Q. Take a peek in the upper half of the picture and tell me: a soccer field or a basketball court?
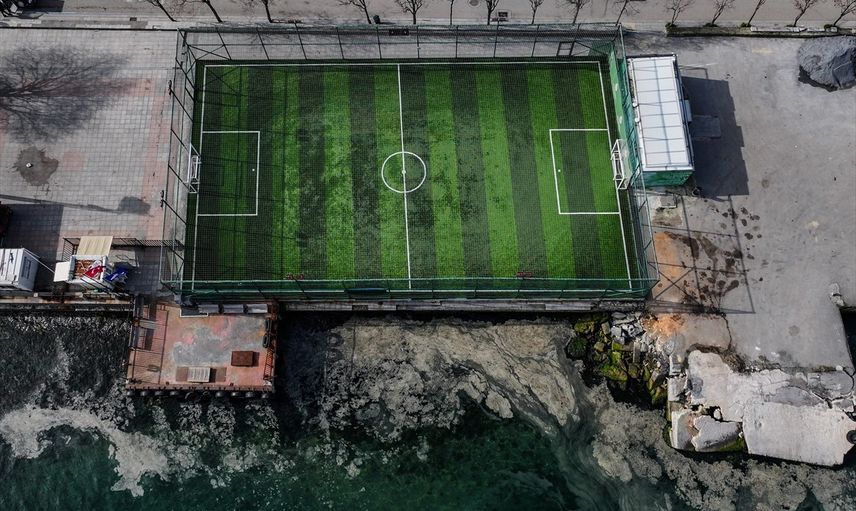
soccer field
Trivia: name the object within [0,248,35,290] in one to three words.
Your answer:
building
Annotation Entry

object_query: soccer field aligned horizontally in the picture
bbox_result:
[181,56,639,282]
